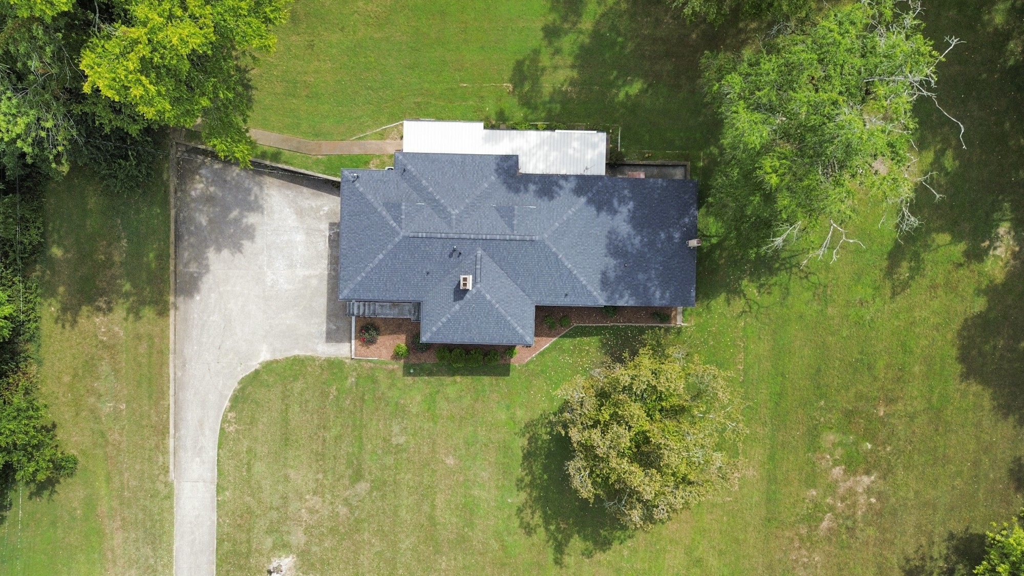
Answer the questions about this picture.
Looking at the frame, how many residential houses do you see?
1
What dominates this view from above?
grass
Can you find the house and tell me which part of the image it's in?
center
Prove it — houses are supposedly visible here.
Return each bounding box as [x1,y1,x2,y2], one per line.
[337,120,704,346]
